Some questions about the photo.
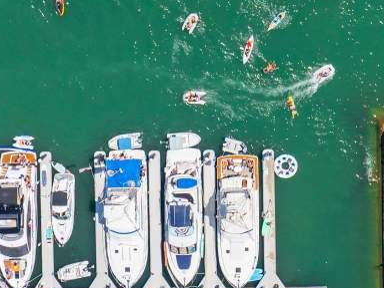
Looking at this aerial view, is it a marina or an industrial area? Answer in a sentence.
This image shows a marina.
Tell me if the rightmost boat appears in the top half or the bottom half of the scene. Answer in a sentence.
The top half of the photo is where the rightmost boat is.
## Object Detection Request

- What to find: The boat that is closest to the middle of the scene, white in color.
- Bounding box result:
[165,131,200,146]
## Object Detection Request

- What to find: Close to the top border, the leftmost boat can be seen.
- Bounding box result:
[179,13,199,35]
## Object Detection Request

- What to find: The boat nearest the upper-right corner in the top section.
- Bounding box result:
[311,65,333,86]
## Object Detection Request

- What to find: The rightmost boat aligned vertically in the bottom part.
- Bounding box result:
[216,150,263,288]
